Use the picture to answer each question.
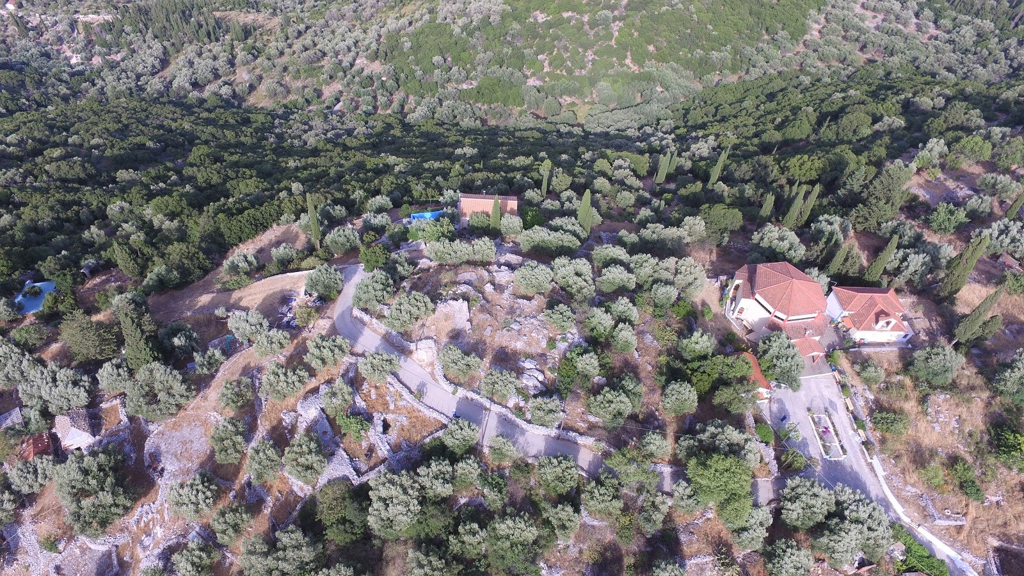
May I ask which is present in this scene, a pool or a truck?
pool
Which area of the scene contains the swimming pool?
left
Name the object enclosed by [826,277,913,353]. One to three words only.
house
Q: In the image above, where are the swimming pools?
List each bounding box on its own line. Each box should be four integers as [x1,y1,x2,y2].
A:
[13,280,61,305]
